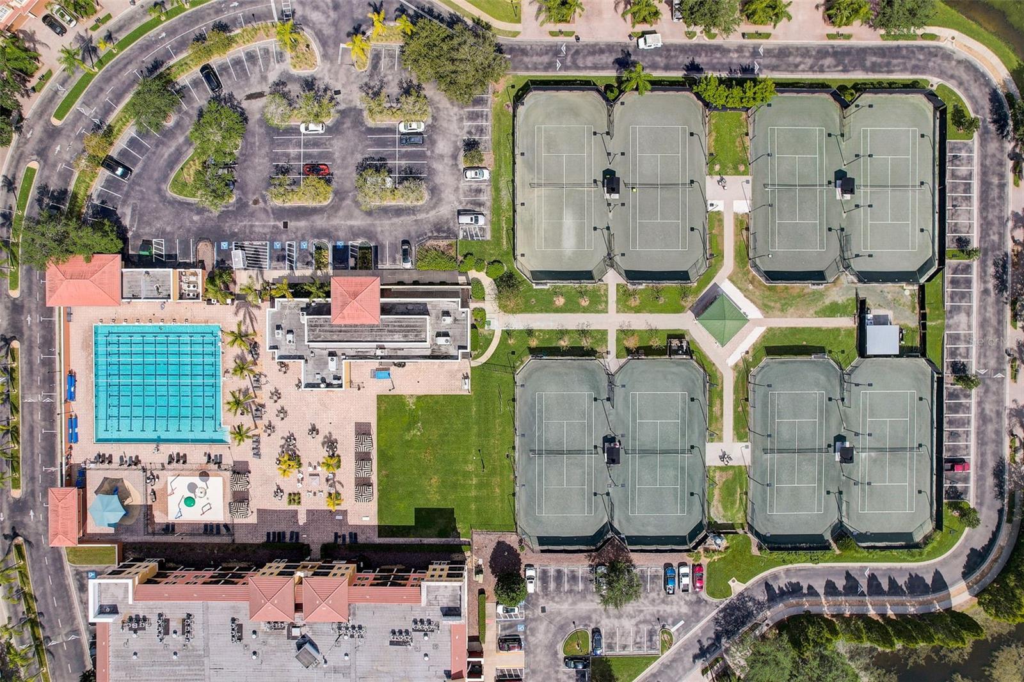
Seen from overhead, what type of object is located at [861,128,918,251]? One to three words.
tennis court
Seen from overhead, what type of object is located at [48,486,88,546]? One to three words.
building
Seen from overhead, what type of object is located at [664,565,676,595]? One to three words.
vehicle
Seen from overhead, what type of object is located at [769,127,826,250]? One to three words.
tennis court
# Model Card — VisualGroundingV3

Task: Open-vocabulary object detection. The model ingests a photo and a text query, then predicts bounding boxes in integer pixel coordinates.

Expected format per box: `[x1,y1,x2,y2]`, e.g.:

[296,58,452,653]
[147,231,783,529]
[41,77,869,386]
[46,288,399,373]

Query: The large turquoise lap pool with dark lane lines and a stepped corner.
[92,323,230,444]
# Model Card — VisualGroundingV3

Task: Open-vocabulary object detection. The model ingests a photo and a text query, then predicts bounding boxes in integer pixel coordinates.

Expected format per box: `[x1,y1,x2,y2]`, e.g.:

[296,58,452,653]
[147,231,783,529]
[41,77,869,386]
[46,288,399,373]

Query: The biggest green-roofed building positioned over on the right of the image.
[696,293,750,347]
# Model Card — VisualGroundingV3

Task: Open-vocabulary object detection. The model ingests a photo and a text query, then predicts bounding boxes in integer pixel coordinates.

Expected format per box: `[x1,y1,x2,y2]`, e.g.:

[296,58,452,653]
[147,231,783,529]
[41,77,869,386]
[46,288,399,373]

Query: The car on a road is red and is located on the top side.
[305,163,329,175]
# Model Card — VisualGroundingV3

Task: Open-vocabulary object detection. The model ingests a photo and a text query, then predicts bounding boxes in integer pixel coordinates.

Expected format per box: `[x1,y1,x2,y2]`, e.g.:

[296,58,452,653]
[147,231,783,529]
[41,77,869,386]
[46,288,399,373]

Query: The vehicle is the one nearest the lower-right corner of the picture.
[945,461,971,473]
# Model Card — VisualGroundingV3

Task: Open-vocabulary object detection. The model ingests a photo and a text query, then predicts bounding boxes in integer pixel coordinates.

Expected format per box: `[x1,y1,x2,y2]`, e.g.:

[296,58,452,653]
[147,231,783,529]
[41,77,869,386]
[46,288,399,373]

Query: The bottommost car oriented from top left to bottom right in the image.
[103,157,131,178]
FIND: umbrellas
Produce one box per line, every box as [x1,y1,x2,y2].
[89,495,127,526]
